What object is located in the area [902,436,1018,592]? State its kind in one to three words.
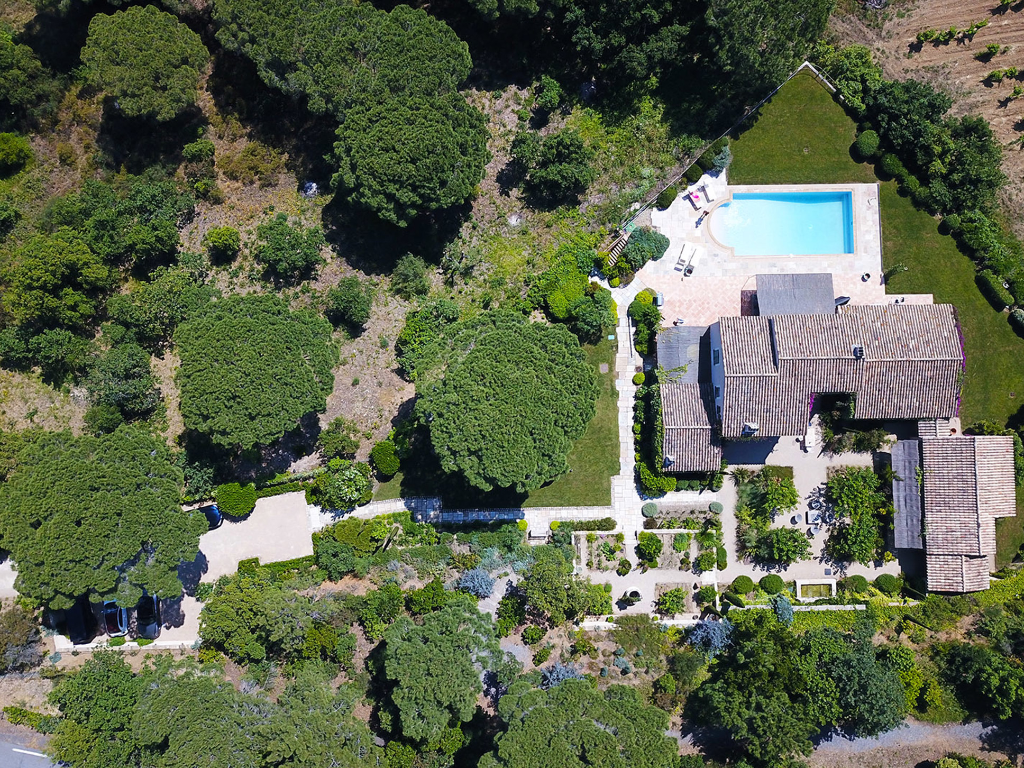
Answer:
shed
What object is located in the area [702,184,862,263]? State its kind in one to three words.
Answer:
swimming pool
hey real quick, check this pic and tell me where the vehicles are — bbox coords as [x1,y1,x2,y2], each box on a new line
[100,601,133,642]
[134,597,164,641]
[62,585,102,644]
[178,503,223,533]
